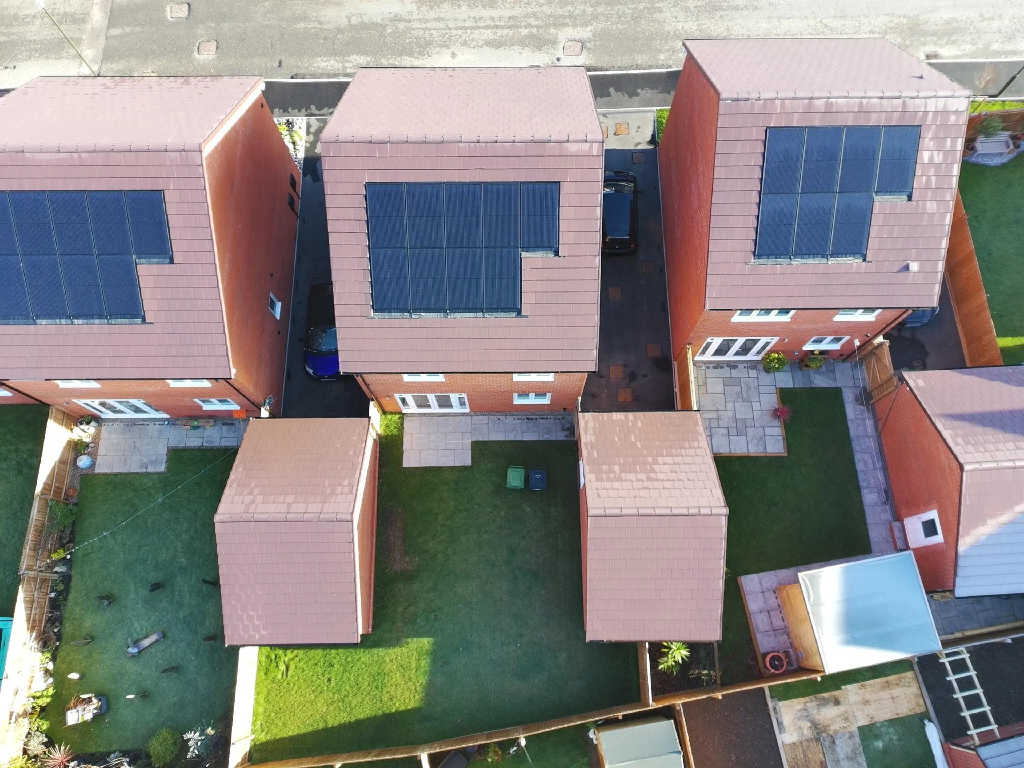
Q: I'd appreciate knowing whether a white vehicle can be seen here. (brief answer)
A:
No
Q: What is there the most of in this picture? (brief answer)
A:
buildings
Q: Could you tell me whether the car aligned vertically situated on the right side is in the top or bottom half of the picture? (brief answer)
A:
top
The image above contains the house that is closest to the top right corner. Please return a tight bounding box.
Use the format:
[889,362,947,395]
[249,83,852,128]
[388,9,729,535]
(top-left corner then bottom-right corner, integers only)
[657,36,970,363]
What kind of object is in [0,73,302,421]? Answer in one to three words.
house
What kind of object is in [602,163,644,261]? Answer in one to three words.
car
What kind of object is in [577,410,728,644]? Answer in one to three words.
building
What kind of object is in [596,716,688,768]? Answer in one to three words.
shed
